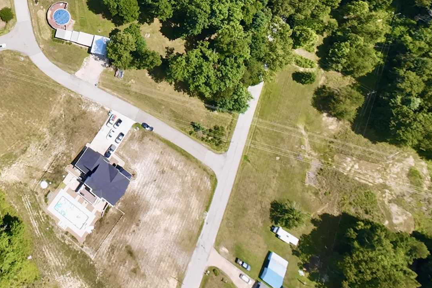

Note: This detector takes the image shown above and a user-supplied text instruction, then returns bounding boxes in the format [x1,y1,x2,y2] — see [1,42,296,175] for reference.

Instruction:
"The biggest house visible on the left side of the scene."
[76,148,133,205]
